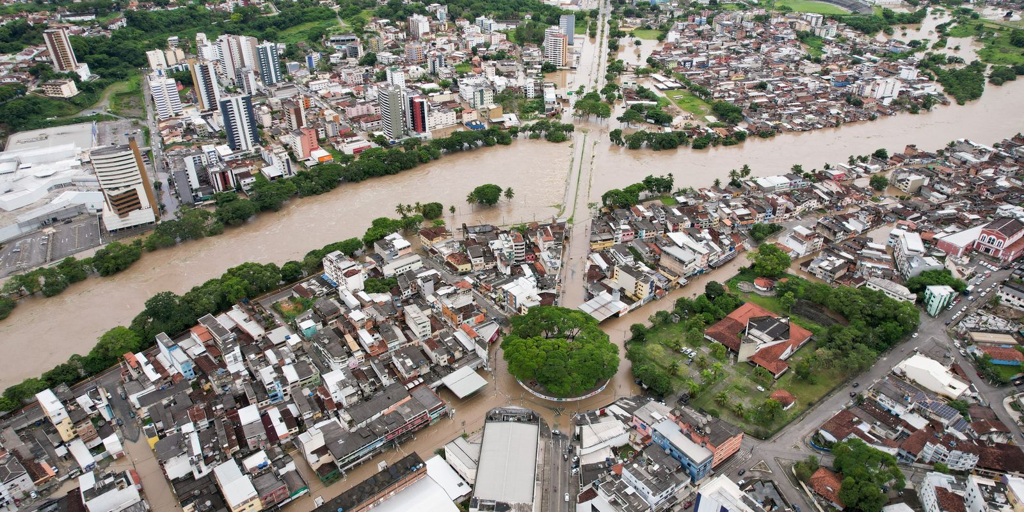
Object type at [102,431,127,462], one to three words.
house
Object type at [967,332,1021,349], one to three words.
building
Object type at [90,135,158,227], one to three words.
building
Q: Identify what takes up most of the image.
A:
buildings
